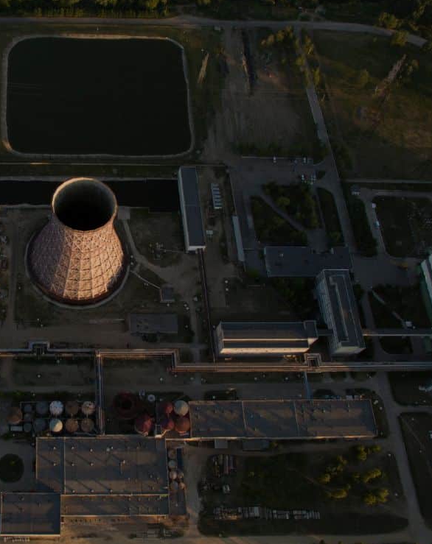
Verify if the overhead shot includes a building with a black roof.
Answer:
Yes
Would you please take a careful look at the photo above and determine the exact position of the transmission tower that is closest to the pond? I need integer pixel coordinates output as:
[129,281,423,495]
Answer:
[193,52,206,87]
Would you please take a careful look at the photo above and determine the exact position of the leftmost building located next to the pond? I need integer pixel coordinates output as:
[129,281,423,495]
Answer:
[178,167,205,255]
